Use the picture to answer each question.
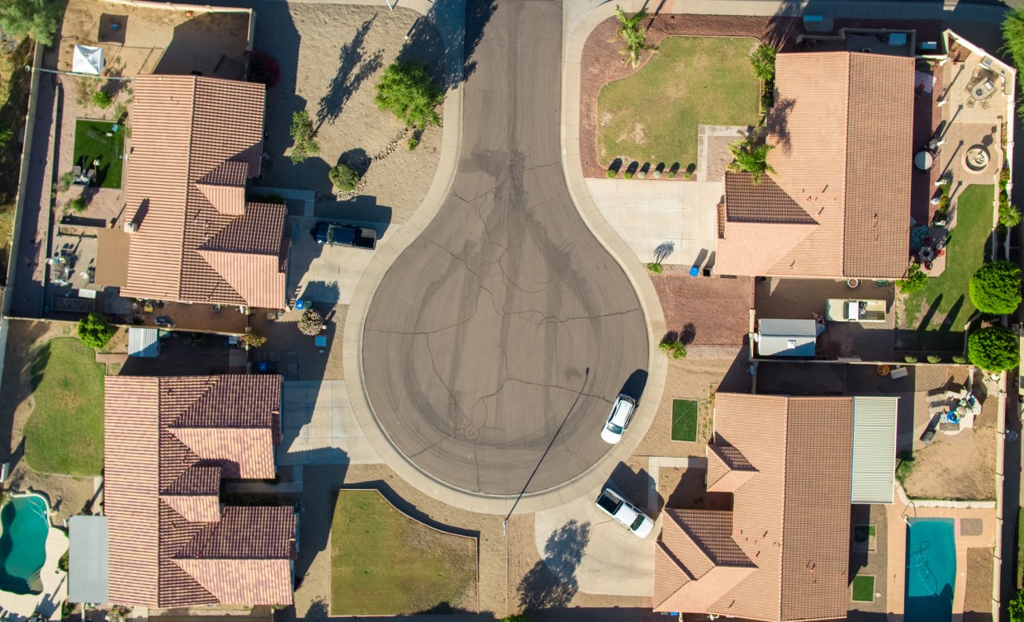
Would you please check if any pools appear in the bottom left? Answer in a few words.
Yes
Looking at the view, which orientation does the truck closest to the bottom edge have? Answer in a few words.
on a diagonal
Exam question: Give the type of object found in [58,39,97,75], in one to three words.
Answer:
tent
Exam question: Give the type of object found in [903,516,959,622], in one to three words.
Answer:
swimming pool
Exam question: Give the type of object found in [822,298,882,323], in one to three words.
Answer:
truck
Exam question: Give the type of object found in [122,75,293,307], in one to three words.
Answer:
house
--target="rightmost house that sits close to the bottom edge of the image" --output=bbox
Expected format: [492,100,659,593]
[653,396,904,622]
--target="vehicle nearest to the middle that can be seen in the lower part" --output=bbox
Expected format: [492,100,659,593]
[603,394,637,444]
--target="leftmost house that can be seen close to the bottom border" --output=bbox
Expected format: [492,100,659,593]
[103,381,302,617]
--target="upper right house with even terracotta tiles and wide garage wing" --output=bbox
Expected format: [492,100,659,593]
[715,50,914,281]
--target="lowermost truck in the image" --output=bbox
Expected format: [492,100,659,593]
[596,488,655,539]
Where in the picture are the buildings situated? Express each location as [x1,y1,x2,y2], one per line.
[715,50,914,281]
[122,75,293,307]
[0,464,9,486]
[103,381,302,617]
[121,327,159,356]
[757,319,818,357]
[653,396,904,622]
